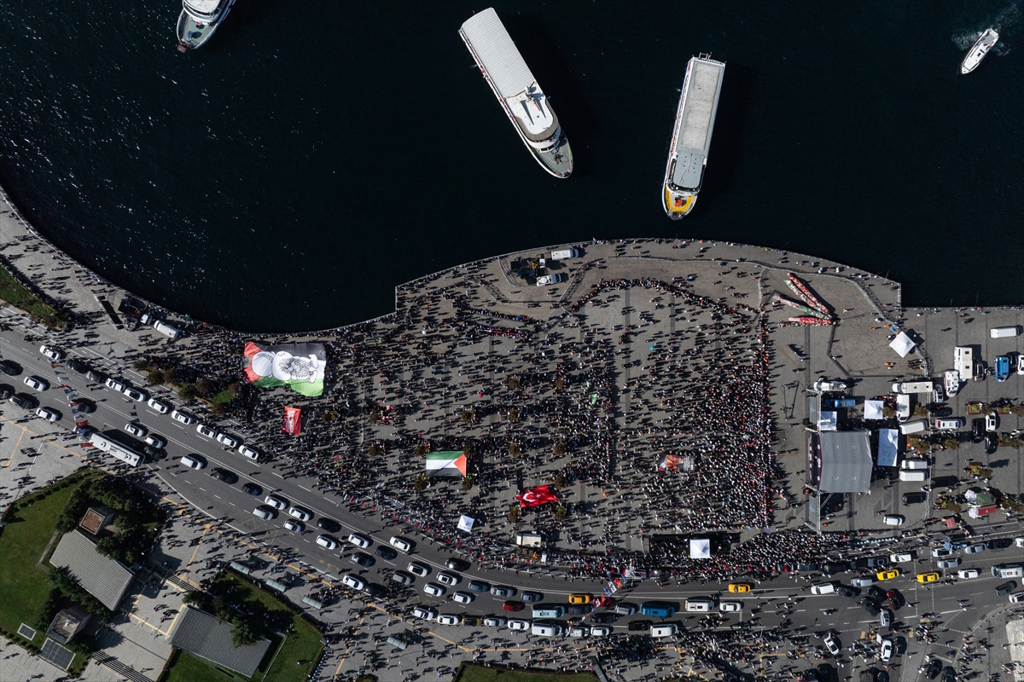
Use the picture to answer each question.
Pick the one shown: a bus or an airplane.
bus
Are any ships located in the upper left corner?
Yes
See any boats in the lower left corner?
No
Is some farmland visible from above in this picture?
No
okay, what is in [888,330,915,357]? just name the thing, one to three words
tent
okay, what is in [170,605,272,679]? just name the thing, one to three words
building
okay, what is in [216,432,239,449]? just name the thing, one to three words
car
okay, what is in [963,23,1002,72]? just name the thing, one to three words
boat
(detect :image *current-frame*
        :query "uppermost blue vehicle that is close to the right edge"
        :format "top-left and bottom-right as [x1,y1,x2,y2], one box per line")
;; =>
[993,354,1012,381]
